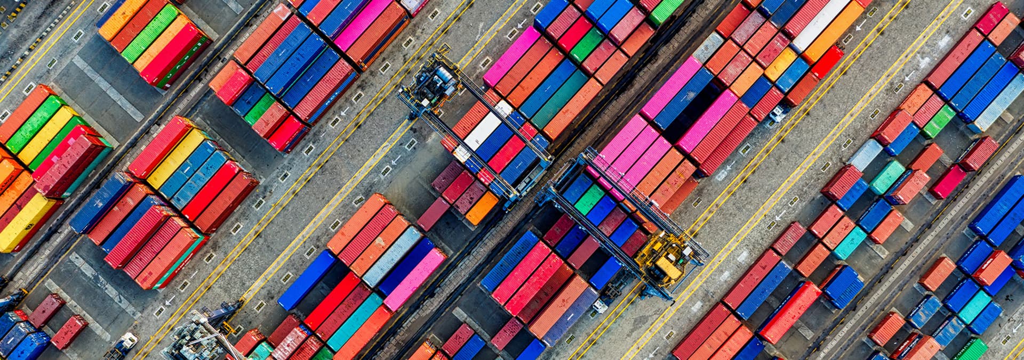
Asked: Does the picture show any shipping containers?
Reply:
Yes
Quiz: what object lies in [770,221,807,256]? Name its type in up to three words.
shipping container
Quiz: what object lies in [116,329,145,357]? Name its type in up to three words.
truck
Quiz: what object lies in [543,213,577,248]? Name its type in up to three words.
shipping container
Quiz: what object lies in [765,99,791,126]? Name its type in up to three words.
truck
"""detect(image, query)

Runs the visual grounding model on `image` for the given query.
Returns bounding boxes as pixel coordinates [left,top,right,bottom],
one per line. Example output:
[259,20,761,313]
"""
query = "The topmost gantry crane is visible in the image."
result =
[393,41,564,215]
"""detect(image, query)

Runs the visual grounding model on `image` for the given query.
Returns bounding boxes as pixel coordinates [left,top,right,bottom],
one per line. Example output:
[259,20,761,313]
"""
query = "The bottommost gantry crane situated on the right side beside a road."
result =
[535,144,710,306]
